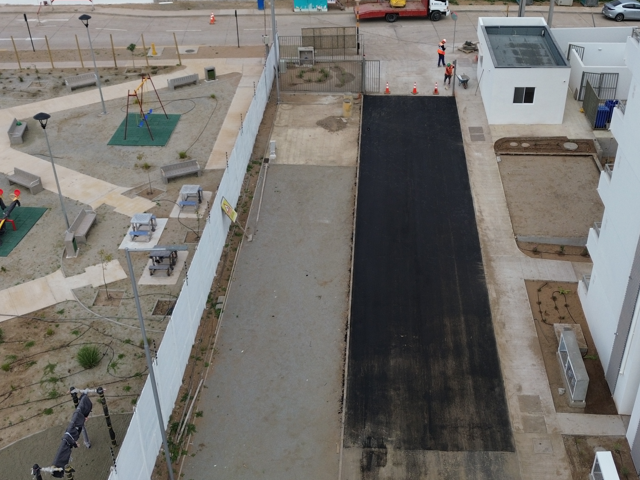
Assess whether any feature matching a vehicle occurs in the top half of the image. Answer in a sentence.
Yes, you'll find a vehicle in the top half of the image.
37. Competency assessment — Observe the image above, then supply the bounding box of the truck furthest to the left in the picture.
[350,0,452,23]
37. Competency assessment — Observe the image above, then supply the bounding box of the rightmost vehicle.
[604,0,640,23]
